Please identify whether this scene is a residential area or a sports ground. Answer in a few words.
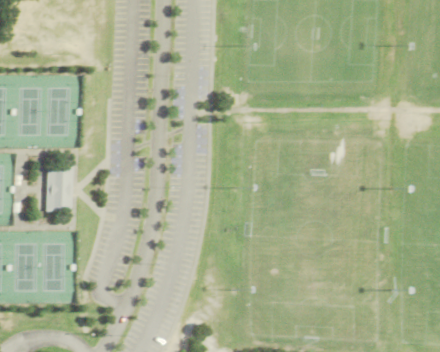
sports ground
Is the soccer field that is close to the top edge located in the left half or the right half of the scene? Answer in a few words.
right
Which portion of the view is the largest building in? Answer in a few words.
left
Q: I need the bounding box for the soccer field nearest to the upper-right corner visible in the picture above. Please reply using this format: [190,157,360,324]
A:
[248,0,377,82]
